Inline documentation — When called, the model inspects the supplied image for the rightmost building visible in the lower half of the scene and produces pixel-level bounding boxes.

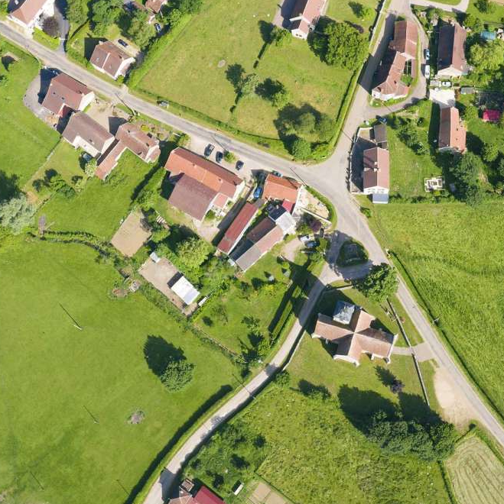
[313,301,395,369]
